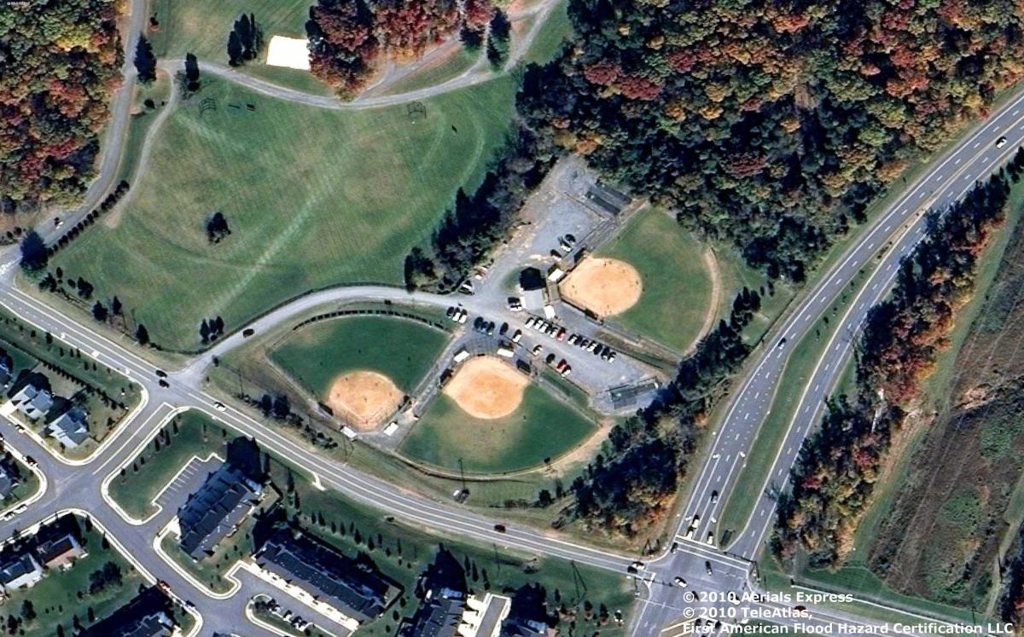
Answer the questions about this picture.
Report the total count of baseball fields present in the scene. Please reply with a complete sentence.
In total, 3 baseball fields can be seen.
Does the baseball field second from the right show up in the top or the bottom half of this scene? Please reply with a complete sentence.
The bottom half of the photo is where the baseball field second from the right is.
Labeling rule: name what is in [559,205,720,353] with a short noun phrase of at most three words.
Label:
baseball field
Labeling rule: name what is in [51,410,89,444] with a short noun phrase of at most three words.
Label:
house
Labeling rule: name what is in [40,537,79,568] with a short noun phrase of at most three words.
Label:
house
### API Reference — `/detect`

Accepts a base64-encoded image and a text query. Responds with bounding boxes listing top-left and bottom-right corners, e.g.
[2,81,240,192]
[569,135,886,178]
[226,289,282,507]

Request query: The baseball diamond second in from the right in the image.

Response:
[394,356,608,480]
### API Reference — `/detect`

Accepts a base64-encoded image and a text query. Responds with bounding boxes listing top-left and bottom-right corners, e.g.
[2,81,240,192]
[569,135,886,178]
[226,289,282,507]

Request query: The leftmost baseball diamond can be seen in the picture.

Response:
[267,316,449,432]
